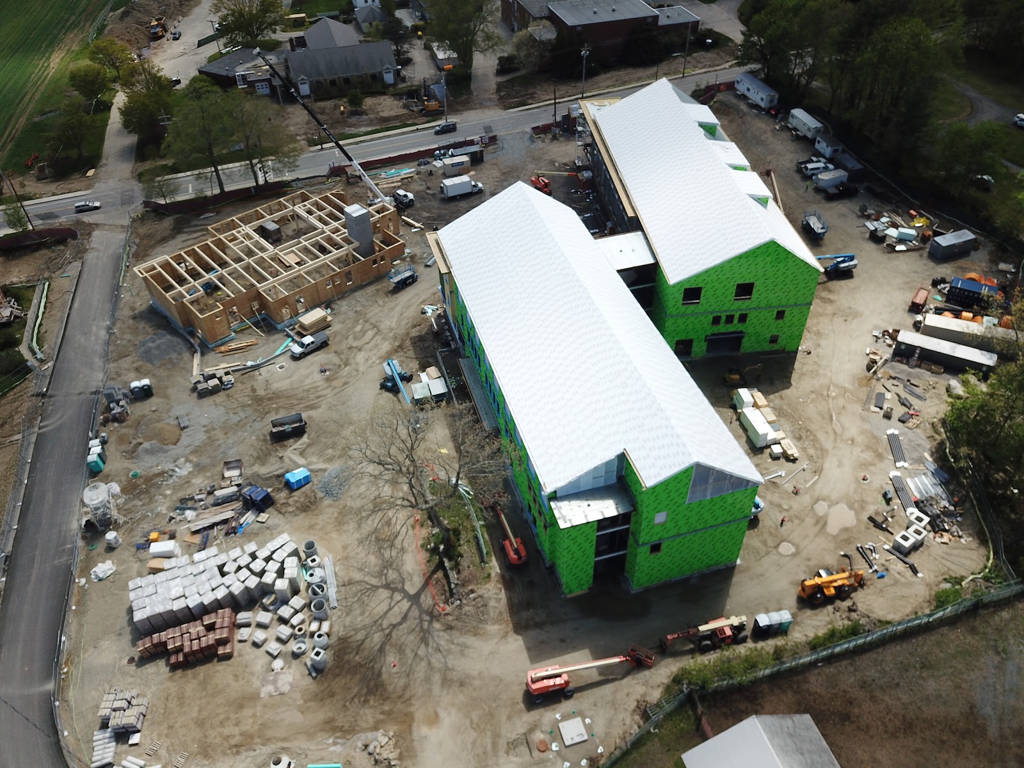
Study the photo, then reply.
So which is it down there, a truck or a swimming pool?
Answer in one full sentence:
The image shows a truck.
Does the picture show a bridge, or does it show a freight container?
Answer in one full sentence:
I can see a freight container in this picture.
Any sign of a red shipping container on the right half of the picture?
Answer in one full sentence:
No, looking on the right half of the picture, there is no red shipping container.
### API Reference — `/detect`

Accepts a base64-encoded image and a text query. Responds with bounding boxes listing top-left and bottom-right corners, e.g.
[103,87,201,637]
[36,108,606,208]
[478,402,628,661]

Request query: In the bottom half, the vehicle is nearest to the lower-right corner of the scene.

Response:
[807,562,875,602]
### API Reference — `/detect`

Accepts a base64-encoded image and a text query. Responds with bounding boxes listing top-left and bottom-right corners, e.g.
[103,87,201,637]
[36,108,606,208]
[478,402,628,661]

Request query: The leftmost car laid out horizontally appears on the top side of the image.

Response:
[70,199,102,212]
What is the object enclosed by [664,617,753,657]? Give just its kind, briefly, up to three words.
work vehicle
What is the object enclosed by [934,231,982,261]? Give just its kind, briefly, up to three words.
shipping container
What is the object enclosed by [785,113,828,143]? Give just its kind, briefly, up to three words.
trailer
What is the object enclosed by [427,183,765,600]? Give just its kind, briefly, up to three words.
building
